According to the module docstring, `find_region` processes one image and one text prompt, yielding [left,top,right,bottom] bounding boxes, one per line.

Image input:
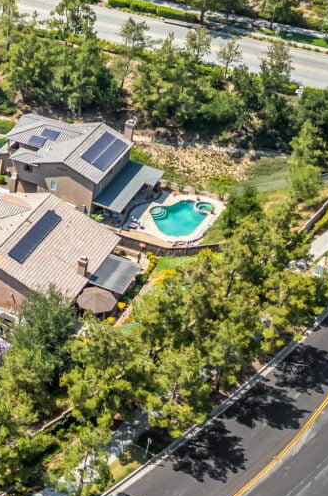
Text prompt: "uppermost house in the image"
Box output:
[0,113,165,226]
